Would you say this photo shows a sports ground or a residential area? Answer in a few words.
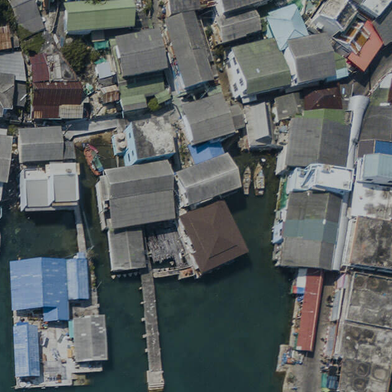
residential area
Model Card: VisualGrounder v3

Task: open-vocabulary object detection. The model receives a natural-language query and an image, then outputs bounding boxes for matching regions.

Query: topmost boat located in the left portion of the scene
[83,141,102,179]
